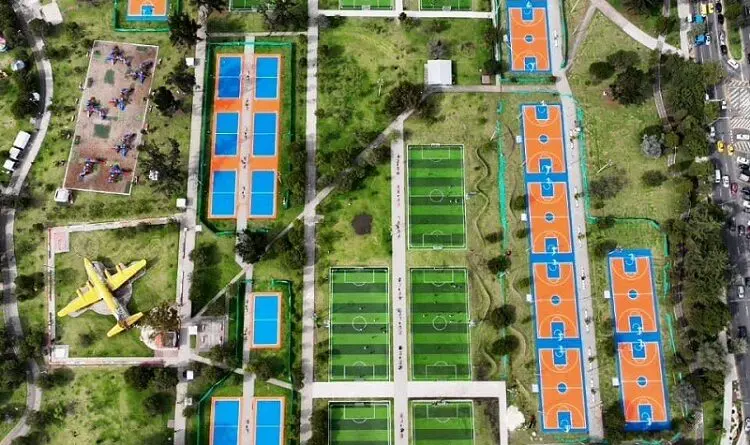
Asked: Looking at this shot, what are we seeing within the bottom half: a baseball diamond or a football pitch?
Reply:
football pitch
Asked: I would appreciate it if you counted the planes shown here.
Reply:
1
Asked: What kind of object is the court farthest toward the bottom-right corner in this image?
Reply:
basketball court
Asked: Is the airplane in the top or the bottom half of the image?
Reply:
bottom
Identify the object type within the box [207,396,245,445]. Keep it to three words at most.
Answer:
sports court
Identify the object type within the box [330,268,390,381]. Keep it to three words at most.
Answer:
soccer field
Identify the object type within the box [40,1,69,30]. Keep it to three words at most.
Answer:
building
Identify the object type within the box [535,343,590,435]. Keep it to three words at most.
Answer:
basketball court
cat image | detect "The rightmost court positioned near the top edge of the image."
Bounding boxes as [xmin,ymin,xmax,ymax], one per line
[506,2,553,75]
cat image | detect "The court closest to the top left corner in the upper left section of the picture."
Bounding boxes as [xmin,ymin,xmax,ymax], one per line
[125,0,170,21]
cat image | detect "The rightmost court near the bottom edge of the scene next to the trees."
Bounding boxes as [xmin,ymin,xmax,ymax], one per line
[614,337,672,430]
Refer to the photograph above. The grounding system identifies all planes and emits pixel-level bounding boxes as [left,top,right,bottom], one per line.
[57,258,147,337]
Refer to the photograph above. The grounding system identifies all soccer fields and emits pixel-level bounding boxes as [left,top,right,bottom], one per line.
[408,144,466,249]
[339,0,395,10]
[418,0,473,11]
[410,268,472,380]
[413,400,475,445]
[330,268,390,381]
[330,401,390,445]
